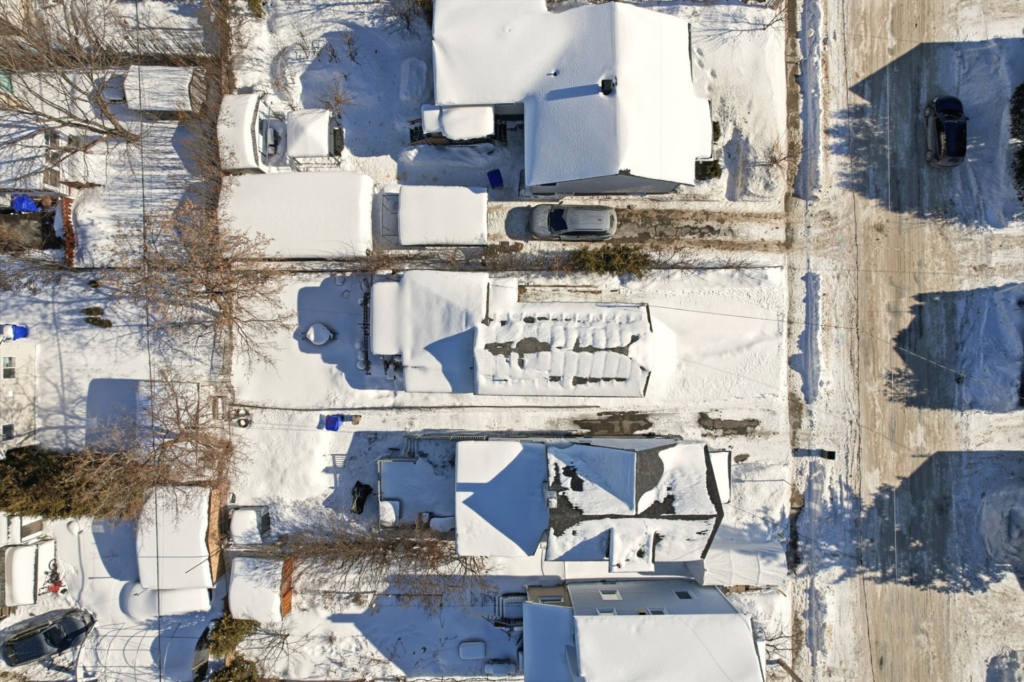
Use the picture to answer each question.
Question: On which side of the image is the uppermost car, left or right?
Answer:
right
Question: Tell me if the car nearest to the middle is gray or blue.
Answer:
gray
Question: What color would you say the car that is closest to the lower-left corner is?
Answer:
black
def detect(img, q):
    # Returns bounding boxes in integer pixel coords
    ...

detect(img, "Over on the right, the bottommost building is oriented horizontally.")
[524,580,759,682]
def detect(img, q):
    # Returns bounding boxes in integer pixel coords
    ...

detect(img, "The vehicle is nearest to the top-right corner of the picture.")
[925,97,971,170]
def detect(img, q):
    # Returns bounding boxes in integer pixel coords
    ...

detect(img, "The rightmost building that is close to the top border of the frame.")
[431,0,712,198]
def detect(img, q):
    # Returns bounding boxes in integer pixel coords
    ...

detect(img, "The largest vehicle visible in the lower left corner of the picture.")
[2,602,90,663]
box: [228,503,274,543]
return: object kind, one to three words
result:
shed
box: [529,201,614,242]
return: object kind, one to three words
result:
car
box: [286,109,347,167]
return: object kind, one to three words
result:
gazebo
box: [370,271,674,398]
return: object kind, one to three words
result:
house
